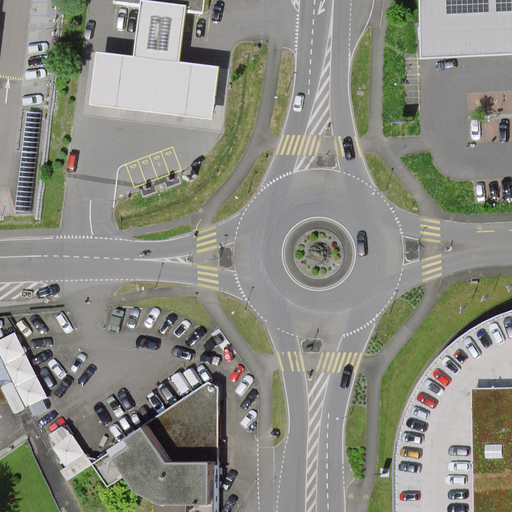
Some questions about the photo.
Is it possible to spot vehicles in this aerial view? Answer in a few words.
Yes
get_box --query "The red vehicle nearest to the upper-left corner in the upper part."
[66,151,80,172]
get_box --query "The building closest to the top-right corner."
[420,0,512,58]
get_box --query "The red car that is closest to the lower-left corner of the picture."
[47,415,68,432]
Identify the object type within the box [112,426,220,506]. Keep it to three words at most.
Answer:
building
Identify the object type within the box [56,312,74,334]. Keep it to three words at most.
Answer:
car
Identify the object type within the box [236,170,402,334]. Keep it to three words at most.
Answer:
roundabout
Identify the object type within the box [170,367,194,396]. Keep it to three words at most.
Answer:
vehicle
